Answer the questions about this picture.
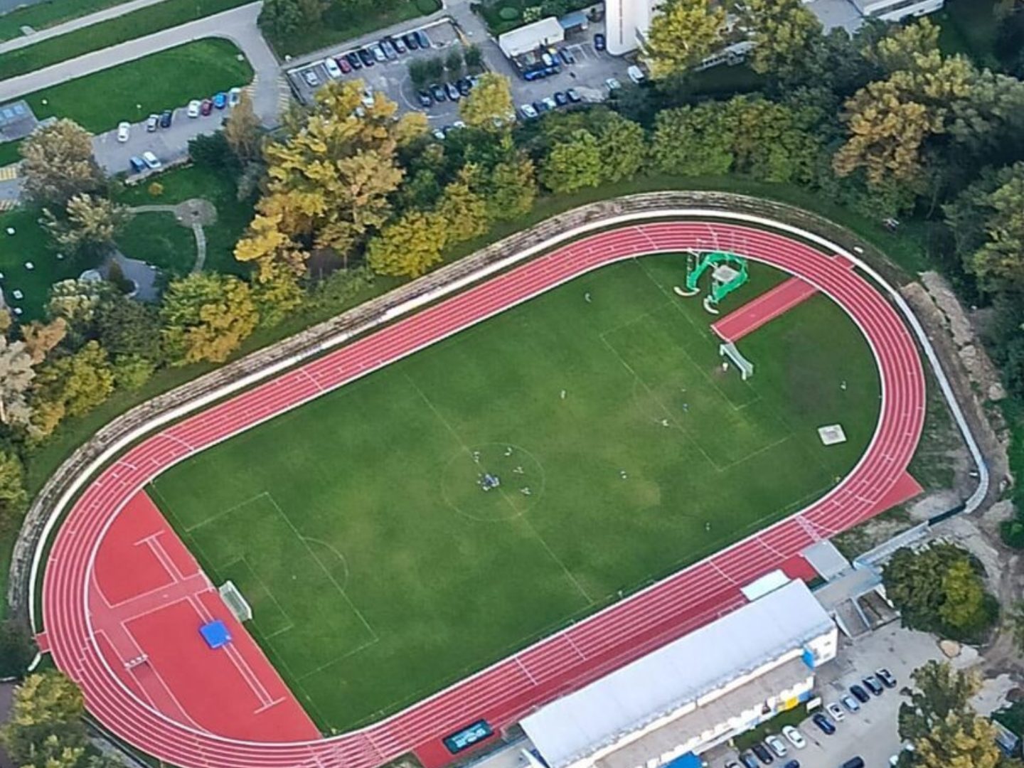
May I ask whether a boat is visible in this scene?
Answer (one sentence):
No, there appears to be no boat in this shot.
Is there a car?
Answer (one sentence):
Yes, there is a car in the image.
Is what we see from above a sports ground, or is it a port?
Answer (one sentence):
This image shows a sports ground.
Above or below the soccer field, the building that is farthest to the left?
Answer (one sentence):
The building that is farthest to the left is located above the soccer field in this view.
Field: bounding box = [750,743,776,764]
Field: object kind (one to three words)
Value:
car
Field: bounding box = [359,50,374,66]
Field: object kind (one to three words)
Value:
car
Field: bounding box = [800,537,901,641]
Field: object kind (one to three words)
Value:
building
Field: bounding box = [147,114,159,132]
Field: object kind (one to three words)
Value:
vehicle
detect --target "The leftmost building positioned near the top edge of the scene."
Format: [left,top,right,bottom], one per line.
[499,17,564,58]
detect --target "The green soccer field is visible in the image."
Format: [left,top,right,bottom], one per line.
[141,250,883,738]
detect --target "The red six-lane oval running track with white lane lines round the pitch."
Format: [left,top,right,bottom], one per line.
[39,222,925,768]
